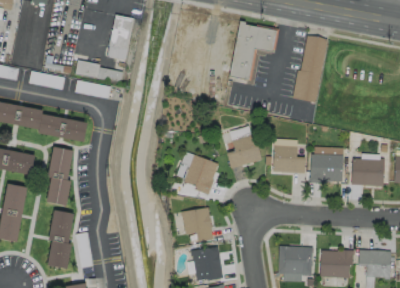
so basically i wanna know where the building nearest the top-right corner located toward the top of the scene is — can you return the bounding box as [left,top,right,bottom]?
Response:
[294,35,328,102]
